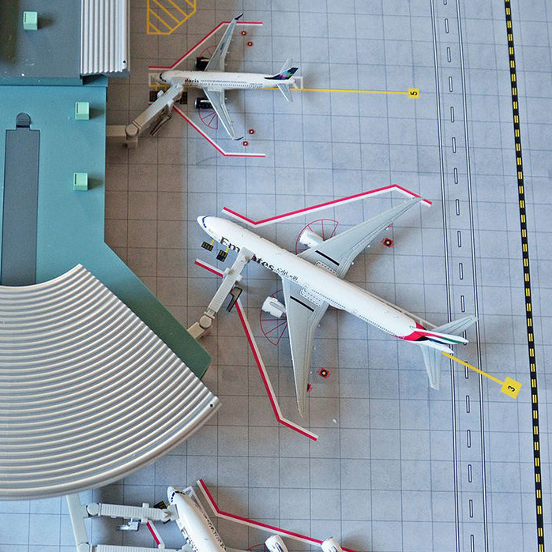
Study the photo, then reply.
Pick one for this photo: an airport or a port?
airport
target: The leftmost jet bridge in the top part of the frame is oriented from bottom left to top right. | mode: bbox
[107,72,185,154]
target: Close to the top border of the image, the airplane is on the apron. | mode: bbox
[159,14,298,141]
